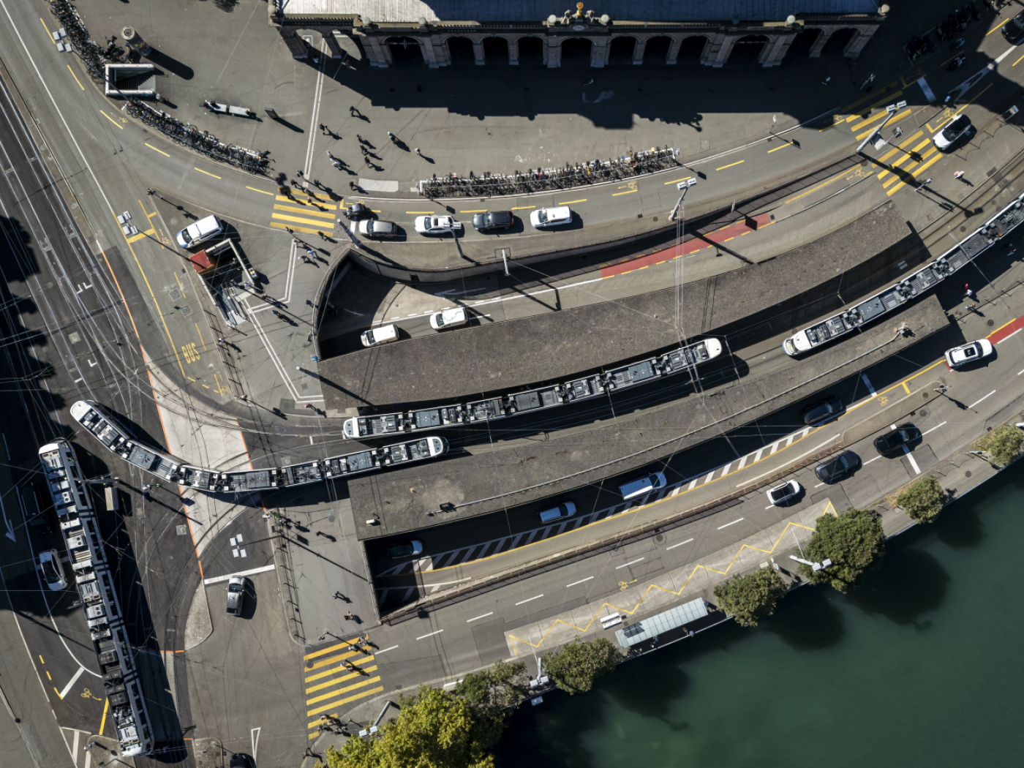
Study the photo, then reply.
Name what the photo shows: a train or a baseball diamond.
train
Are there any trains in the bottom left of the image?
Yes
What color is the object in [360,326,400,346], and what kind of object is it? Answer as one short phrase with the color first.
white vehicle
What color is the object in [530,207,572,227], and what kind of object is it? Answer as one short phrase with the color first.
white car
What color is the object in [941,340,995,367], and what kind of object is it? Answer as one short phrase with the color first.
white car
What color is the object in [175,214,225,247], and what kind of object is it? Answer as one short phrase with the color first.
white vehicle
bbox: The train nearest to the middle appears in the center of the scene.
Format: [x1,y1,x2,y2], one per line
[347,336,721,438]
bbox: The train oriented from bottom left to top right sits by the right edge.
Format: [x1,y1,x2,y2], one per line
[775,194,1024,359]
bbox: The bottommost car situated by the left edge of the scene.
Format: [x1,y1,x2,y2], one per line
[37,547,67,592]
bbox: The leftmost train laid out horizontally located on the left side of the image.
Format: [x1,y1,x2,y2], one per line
[74,402,451,491]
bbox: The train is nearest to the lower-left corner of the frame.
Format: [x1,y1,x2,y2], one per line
[42,441,154,754]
